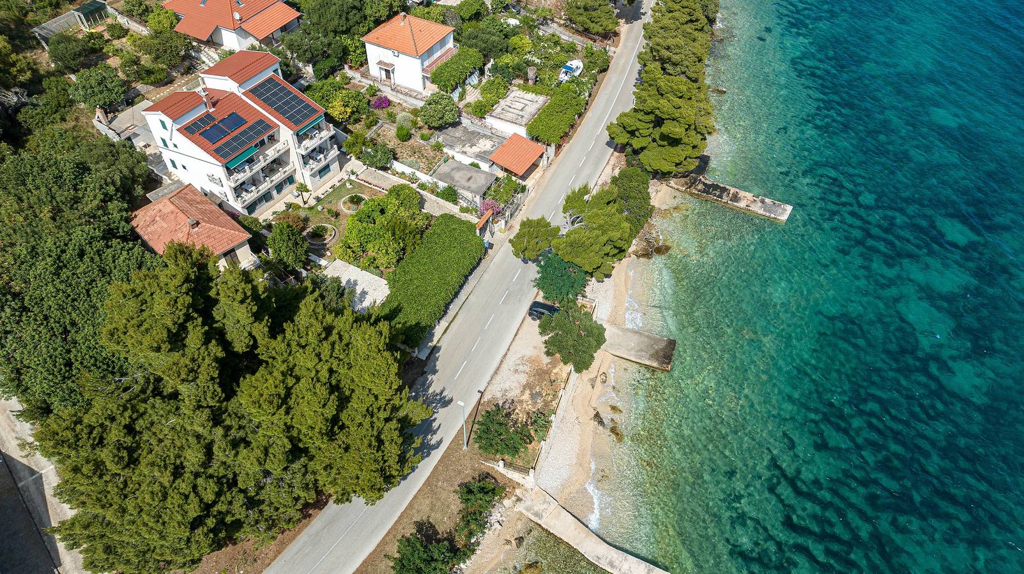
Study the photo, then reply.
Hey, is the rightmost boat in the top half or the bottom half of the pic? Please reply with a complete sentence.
You can find the rightmost boat in the top half.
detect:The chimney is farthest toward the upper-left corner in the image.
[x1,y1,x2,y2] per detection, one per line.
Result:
[91,102,112,127]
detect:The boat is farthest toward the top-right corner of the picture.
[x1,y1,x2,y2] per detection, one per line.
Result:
[555,55,578,83]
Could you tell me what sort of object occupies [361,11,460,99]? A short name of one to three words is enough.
house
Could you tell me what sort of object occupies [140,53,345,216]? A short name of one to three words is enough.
house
